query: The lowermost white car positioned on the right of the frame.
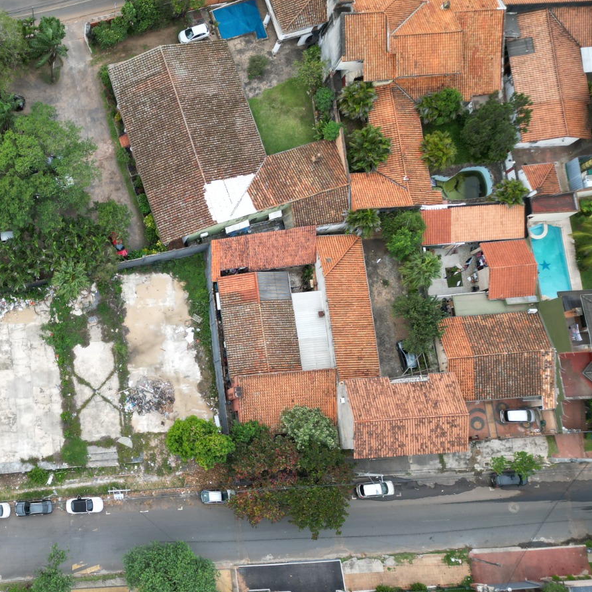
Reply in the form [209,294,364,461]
[355,479,395,499]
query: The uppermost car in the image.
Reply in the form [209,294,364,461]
[178,23,211,43]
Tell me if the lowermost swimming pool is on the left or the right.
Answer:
right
